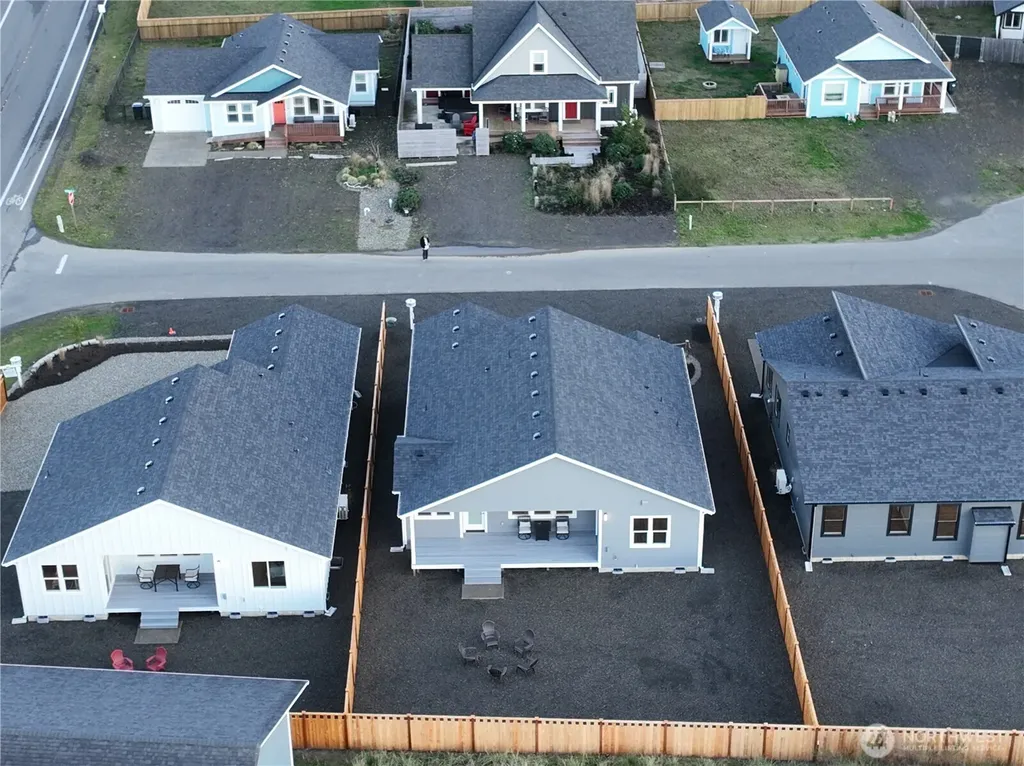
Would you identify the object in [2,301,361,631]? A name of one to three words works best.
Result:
house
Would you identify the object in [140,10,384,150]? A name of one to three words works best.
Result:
house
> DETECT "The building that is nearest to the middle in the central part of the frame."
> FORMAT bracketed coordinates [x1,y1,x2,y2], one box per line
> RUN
[391,300,718,585]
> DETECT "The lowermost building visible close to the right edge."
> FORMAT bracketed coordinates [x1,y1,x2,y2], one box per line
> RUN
[755,288,1024,566]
